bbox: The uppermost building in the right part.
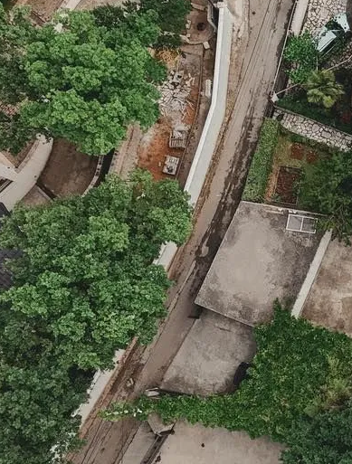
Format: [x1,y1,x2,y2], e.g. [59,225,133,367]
[195,200,329,327]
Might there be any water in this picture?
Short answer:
No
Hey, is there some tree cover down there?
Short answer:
Yes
